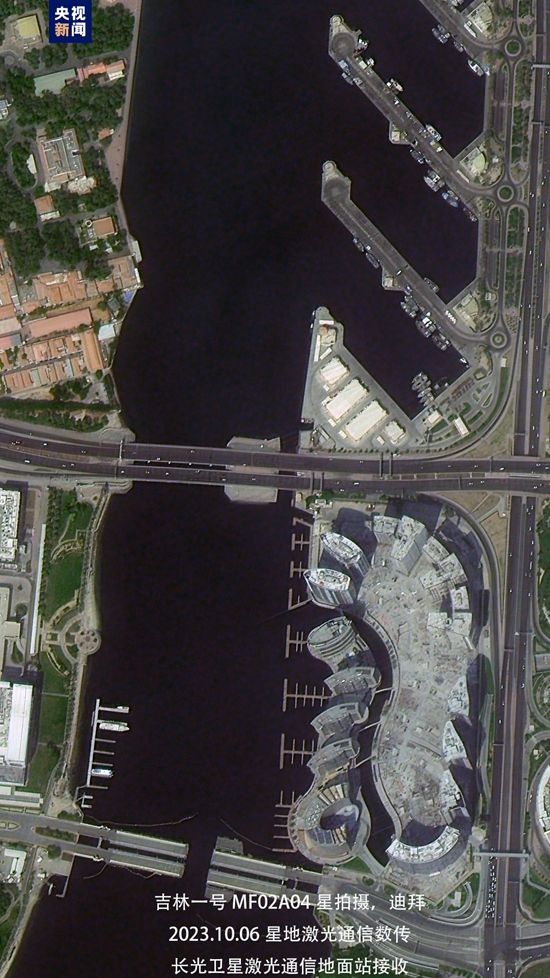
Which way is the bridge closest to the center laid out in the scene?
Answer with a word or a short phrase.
from left to right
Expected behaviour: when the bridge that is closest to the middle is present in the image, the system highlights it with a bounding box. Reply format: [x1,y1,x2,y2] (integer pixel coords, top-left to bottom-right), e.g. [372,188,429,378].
[119,442,304,491]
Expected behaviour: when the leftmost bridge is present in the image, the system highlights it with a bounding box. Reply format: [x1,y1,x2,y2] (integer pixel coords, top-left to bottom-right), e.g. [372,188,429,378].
[79,823,189,878]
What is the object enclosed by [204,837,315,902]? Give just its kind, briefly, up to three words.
bridge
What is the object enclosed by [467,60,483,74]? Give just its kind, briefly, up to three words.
boat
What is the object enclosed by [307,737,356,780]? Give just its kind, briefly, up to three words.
building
